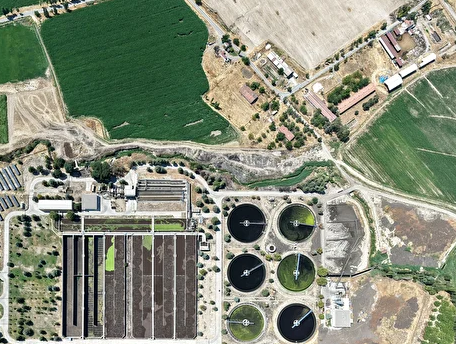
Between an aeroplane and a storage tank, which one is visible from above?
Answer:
storage tank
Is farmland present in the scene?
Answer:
Yes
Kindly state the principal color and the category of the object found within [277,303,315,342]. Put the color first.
black storage tank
